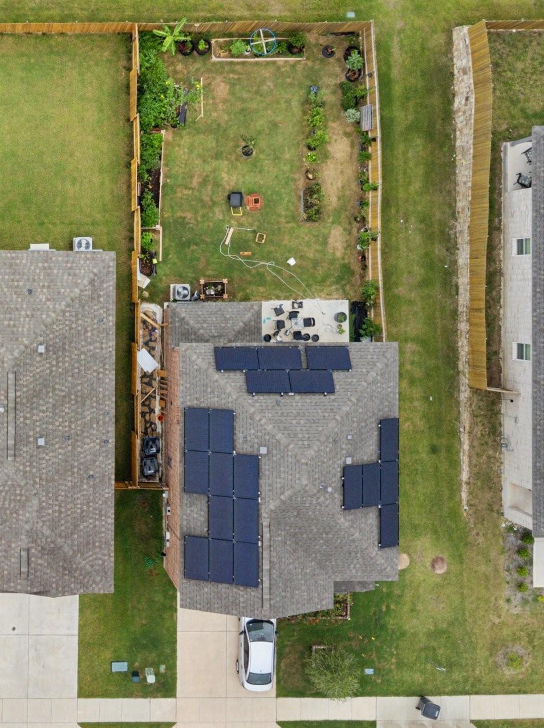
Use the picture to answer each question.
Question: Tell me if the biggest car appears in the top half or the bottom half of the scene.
bottom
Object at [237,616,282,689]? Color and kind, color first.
white car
